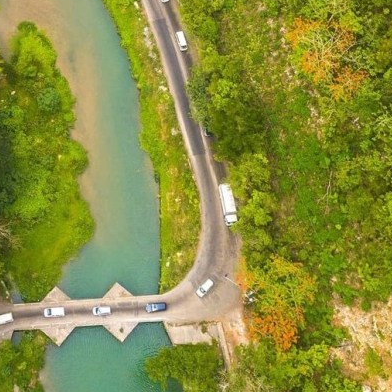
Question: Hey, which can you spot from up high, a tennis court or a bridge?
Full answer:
The one in the frame is a bridge.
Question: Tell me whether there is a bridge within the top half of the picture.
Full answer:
No, looking within the top half of the picture, there is no bridge.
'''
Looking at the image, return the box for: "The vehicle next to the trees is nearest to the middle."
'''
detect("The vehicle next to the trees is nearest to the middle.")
[219,183,238,225]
